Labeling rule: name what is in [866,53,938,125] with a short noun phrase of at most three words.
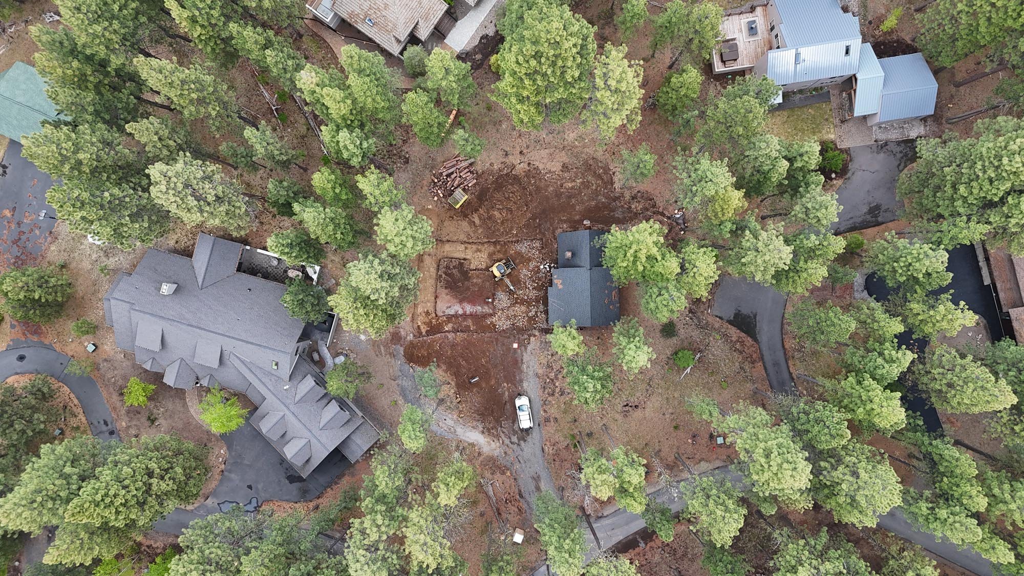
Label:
building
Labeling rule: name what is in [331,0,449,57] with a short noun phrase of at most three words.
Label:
house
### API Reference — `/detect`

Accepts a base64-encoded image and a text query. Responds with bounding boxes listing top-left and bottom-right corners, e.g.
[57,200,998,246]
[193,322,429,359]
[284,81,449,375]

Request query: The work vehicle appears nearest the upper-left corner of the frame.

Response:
[488,257,516,290]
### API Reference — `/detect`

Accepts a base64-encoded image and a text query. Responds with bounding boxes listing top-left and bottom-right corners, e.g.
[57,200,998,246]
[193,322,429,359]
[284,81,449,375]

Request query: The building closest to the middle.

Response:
[548,230,620,326]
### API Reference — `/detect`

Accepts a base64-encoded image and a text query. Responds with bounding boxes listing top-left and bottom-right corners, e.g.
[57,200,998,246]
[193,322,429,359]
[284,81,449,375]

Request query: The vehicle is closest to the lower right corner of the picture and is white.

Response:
[517,396,533,430]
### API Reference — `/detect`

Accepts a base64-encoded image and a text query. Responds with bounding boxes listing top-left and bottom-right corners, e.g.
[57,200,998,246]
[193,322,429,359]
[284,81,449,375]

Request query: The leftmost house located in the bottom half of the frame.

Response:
[104,232,381,479]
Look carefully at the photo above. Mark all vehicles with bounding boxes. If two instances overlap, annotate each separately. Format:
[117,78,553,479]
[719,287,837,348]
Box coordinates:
[517,396,533,430]
[488,257,516,290]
